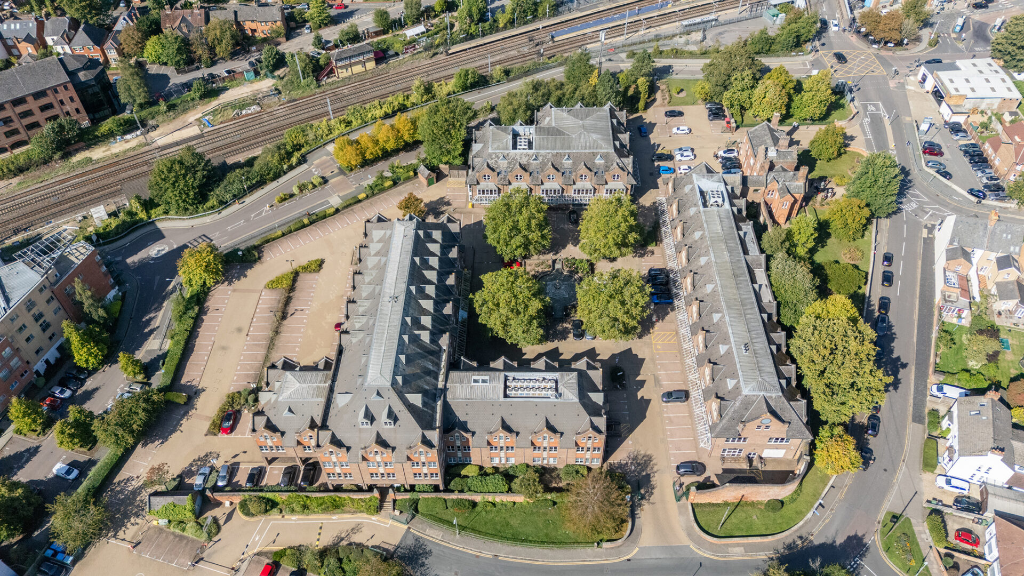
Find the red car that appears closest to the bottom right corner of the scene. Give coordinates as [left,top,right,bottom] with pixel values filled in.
[953,529,981,546]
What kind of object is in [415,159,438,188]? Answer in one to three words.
shed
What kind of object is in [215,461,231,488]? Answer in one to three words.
car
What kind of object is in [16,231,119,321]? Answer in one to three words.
building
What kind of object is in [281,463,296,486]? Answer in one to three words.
car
